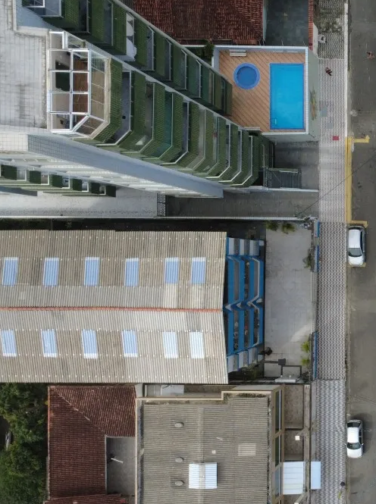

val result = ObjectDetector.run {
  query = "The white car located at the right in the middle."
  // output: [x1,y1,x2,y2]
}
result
[344,225,368,267]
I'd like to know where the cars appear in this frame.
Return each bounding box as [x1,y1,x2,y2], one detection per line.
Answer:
[344,225,368,267]
[344,419,366,459]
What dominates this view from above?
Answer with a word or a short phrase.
buildings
